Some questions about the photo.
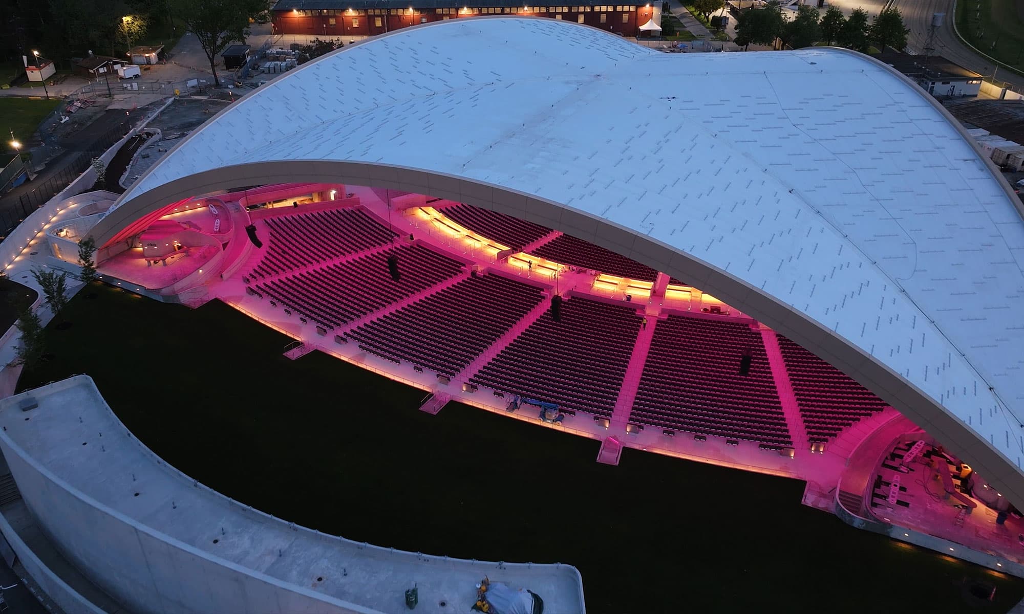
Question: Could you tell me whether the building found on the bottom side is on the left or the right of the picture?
left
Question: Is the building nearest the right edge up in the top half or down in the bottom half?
top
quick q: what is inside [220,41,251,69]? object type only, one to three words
shed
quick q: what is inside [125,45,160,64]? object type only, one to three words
building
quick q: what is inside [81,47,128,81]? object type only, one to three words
building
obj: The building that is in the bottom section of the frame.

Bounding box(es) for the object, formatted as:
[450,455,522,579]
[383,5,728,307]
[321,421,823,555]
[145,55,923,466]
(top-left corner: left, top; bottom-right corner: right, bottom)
[0,371,585,614]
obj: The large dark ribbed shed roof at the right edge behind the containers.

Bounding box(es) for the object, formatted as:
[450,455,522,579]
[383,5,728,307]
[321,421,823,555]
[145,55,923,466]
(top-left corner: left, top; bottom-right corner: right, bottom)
[947,99,1024,153]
